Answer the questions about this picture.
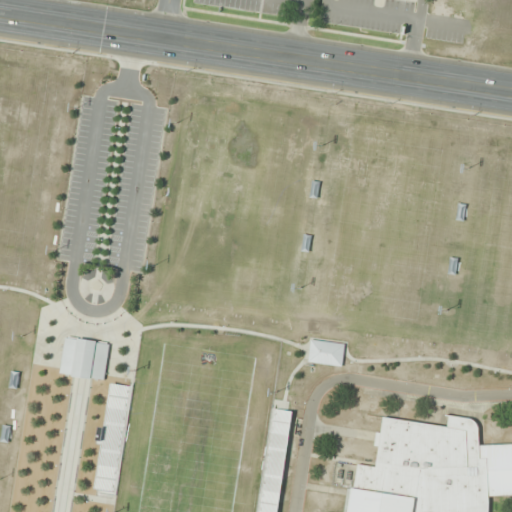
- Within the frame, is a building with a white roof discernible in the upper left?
No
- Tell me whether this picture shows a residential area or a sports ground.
sports ground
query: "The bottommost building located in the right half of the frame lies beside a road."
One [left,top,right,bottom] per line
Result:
[344,414,512,512]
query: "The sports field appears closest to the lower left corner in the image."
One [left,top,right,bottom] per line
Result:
[136,339,262,512]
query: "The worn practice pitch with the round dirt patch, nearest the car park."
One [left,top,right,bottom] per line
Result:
[170,104,312,301]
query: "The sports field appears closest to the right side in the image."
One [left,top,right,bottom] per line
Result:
[462,114,512,298]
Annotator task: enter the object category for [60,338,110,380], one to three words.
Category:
building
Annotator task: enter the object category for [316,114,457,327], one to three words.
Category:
sports field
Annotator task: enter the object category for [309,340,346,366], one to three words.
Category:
building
